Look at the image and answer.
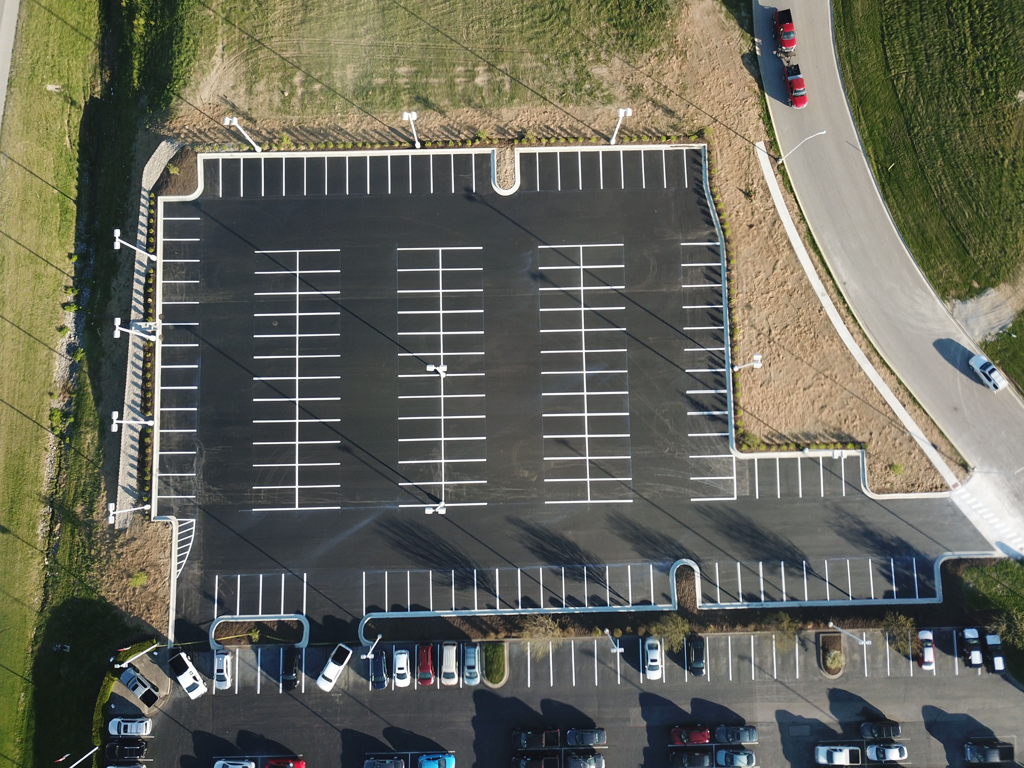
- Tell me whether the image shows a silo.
No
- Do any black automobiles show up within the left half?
Yes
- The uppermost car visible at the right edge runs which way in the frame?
on a diagonal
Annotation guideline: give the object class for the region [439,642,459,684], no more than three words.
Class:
vehicle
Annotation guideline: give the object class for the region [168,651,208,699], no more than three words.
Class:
truck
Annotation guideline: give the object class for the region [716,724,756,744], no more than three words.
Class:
car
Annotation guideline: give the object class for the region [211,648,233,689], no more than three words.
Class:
car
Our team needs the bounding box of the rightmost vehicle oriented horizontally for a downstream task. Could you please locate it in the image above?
[964,741,1014,764]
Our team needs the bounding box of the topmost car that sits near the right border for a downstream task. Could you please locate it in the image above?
[970,354,1007,394]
